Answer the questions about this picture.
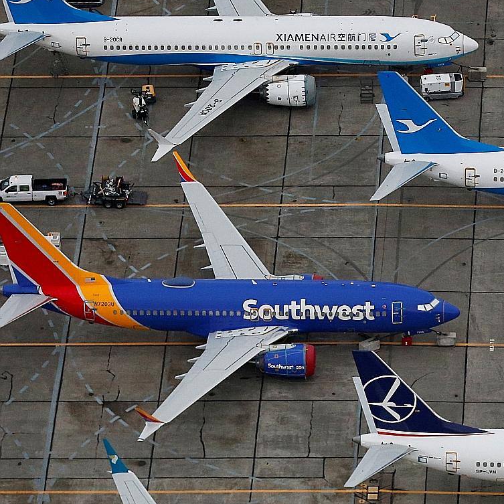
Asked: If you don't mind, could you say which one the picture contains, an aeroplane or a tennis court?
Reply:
aeroplane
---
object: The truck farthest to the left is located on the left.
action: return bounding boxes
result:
[0,171,76,203]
